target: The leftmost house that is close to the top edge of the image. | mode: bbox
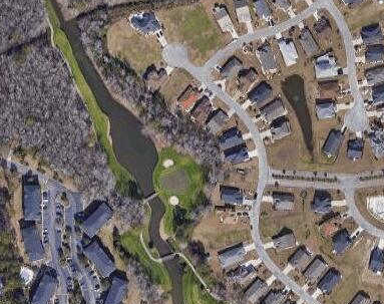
[131,12,156,32]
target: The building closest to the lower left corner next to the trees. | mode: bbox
[31,273,57,304]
